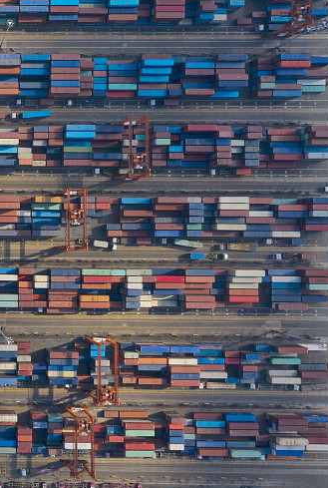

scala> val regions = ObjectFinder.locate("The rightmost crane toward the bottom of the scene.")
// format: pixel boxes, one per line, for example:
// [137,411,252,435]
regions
[87,333,119,408]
